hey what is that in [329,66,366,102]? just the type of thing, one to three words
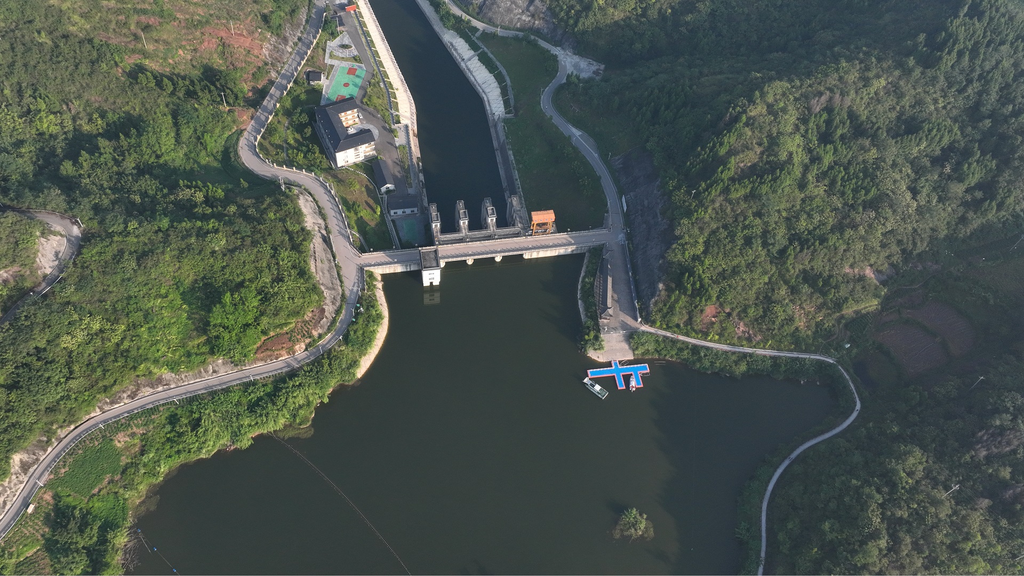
basketball court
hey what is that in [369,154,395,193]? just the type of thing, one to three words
shed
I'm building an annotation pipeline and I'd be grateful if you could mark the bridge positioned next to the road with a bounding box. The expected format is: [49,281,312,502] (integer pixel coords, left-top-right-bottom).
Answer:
[360,230,609,275]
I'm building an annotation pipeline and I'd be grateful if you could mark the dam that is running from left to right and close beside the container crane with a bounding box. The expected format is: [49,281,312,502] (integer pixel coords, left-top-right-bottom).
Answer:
[428,195,526,248]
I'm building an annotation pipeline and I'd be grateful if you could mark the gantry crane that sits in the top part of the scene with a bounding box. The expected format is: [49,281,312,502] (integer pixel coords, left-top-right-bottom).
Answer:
[530,210,555,236]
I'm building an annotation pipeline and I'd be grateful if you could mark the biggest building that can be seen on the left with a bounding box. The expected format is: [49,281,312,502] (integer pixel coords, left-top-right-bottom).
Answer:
[315,97,378,168]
